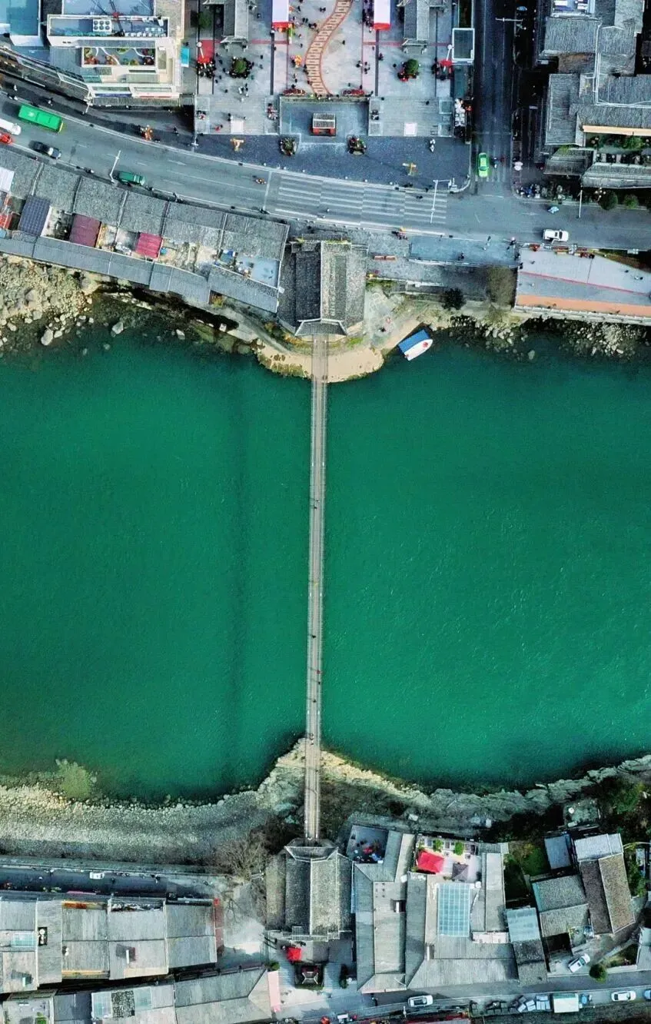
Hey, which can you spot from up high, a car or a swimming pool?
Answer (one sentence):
The image shows a car.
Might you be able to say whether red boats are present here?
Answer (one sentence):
No, I can see no red boat in this picture.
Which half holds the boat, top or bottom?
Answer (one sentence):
Seen from above, the boat lies in the top half of the view.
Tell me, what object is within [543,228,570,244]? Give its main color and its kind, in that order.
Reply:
white car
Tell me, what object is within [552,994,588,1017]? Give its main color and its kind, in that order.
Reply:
white truck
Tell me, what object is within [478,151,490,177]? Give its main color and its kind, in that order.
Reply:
green vehicle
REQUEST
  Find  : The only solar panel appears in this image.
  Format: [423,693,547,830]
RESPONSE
[18,197,50,236]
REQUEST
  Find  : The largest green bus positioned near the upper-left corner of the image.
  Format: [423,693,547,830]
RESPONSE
[15,101,64,129]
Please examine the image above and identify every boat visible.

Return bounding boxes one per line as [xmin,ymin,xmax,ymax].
[399,330,434,362]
